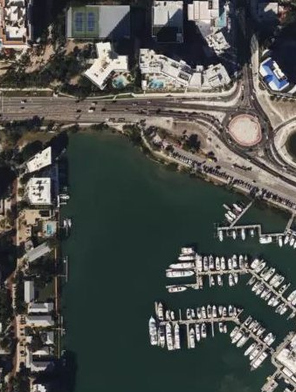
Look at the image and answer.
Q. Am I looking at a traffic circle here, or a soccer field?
traffic circle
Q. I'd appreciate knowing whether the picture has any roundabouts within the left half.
No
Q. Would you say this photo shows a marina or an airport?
marina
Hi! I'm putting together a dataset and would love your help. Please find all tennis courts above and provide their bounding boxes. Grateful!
[71,7,86,38]
[86,7,99,38]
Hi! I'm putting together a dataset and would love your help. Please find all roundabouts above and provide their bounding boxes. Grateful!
[220,106,269,154]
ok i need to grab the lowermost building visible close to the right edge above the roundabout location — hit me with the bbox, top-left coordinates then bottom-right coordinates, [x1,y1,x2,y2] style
[259,57,290,94]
